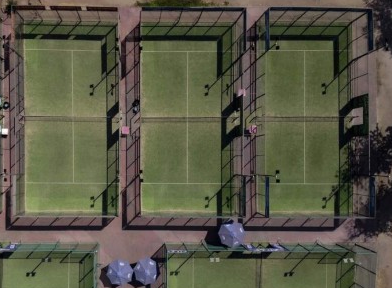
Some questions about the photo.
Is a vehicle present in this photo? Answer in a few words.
No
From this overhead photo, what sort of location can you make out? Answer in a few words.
sports ground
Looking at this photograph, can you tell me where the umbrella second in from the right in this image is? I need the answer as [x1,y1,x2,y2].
[132,256,158,282]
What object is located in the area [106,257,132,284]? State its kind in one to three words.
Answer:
umbrella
